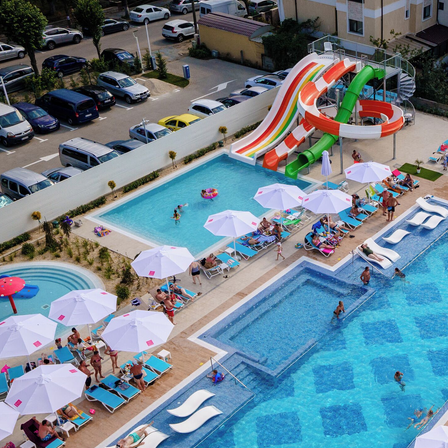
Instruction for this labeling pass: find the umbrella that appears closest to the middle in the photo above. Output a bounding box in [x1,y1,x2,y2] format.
[200,212,259,262]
